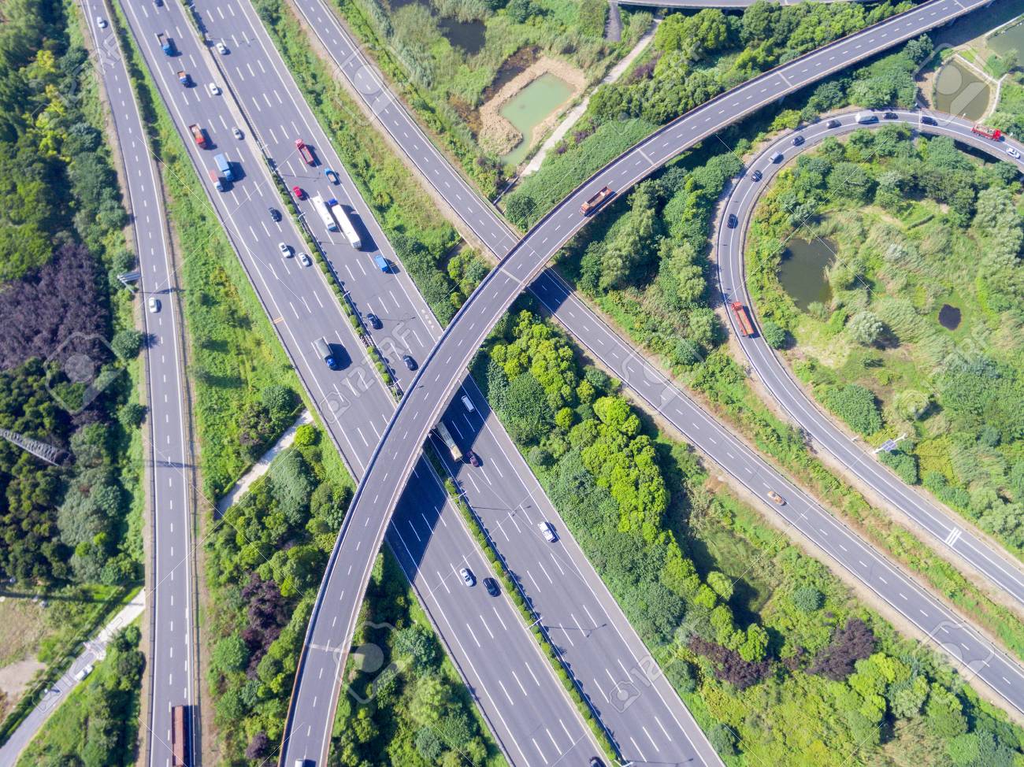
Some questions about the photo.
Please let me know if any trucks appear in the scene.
Yes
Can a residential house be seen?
No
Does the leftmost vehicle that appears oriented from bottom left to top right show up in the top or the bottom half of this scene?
bottom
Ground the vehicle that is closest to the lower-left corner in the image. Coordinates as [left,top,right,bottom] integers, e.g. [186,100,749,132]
[70,659,96,684]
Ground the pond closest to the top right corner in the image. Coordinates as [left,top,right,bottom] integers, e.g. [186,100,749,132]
[932,58,991,122]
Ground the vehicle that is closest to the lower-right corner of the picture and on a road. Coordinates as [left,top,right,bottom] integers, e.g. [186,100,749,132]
[765,489,785,507]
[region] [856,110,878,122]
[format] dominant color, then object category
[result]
white vehicle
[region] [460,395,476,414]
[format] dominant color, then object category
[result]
blue vehicle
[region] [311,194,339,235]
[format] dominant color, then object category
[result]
white bus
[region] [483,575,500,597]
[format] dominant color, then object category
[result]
blue car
